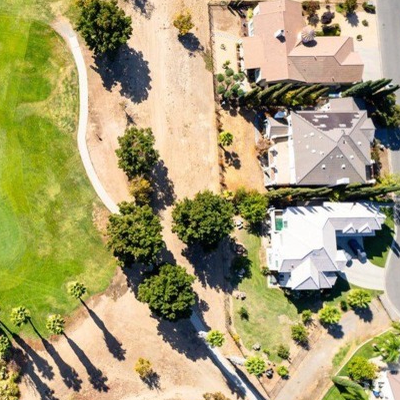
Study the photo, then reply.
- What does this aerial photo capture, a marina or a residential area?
residential area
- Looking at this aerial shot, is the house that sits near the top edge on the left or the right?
right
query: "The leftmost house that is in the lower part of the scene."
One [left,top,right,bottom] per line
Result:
[268,202,385,289]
